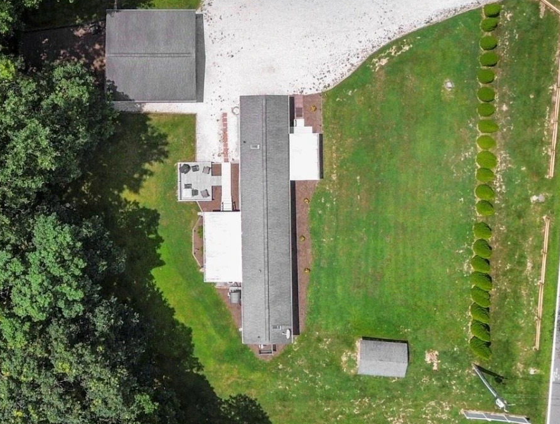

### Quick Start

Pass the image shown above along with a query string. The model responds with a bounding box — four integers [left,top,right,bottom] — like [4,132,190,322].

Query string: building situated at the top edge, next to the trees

[103,8,197,103]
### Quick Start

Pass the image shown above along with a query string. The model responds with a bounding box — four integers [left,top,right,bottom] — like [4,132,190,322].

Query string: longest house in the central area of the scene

[238,95,293,346]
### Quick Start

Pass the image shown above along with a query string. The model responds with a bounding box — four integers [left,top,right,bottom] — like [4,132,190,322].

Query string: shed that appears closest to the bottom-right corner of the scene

[356,335,407,378]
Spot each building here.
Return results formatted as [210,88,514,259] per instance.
[103,8,197,103]
[356,335,407,378]
[238,95,293,346]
